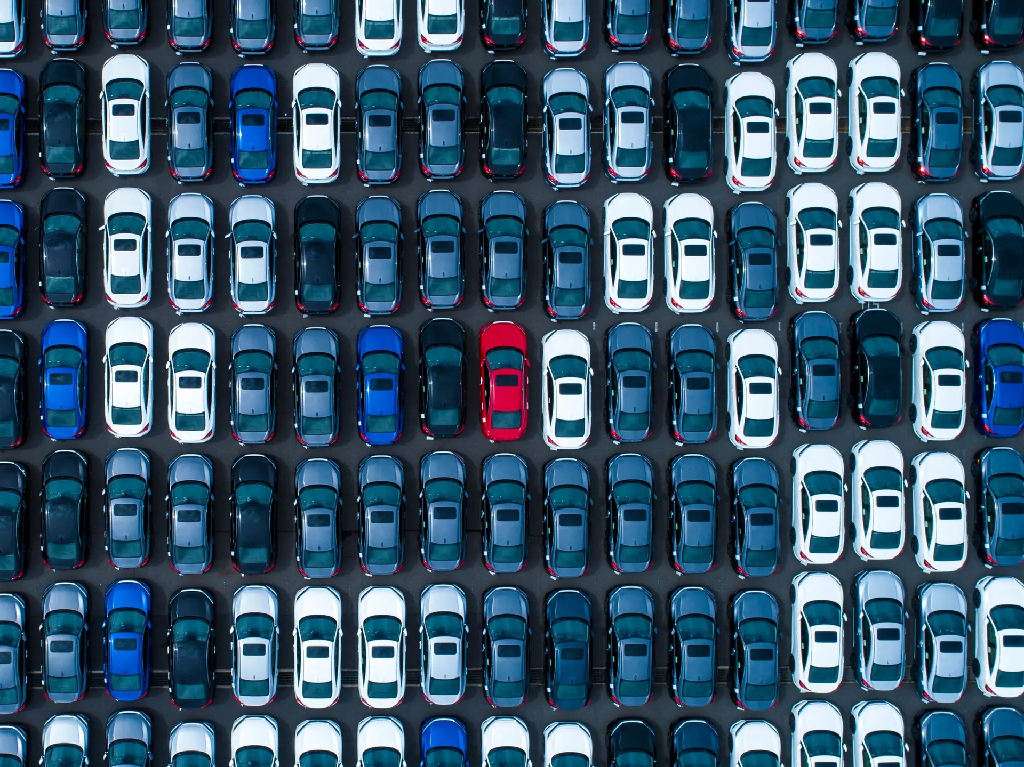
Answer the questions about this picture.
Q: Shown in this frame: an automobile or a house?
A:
automobile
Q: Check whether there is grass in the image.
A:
No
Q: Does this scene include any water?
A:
No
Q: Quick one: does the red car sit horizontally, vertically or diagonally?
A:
vertically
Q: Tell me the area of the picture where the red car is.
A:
center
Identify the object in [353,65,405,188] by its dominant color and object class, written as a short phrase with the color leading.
blue car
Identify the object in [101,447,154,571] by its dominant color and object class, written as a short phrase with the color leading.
blue car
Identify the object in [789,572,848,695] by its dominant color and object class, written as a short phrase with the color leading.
white car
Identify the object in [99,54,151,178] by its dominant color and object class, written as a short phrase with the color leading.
white car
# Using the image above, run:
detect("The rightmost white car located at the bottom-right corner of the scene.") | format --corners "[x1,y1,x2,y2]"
[971,576,1024,700]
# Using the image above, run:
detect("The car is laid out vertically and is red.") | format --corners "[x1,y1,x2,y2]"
[478,321,531,443]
